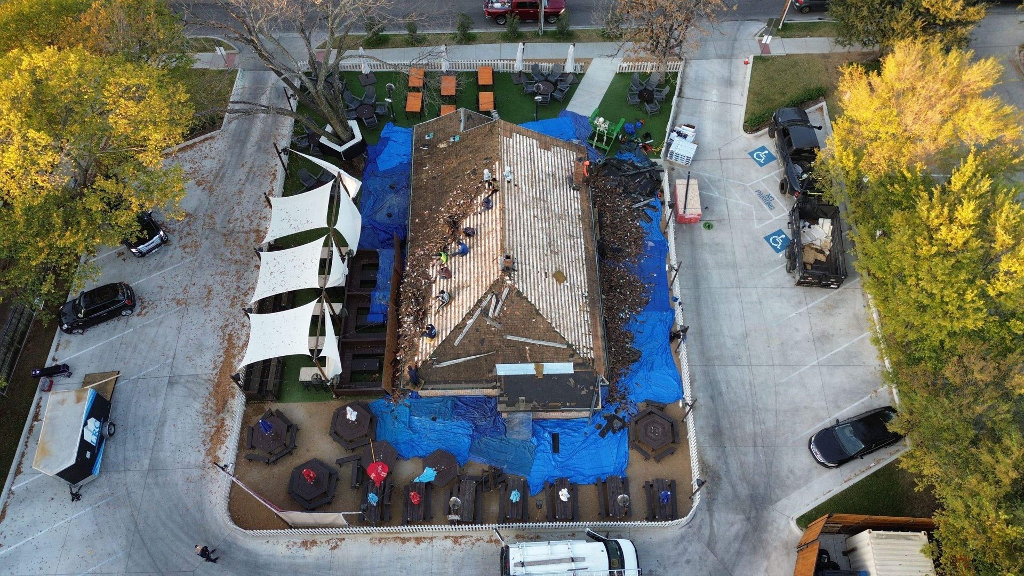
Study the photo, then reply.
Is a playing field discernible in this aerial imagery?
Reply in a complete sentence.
No, this view has no playing field in it.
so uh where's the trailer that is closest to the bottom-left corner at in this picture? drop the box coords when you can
[28,388,111,500]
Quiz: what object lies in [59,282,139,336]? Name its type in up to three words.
car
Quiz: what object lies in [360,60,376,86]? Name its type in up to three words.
umbrella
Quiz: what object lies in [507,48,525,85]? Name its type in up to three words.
umbrella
